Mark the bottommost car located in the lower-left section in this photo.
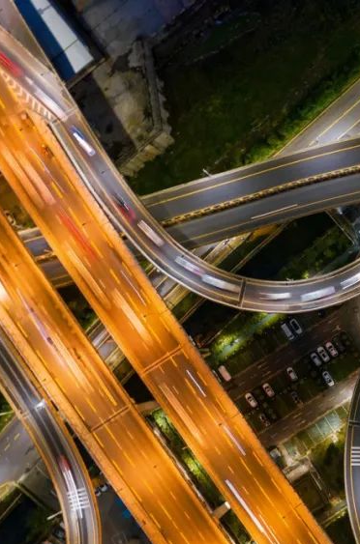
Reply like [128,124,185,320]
[52,524,66,544]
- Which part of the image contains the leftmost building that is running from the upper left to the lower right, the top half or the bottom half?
top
